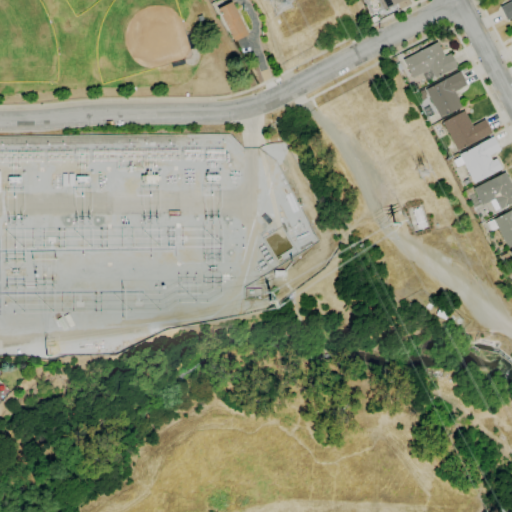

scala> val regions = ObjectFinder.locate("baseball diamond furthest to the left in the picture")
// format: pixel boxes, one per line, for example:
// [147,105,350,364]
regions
[0,0,60,82]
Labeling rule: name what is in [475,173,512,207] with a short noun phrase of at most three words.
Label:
house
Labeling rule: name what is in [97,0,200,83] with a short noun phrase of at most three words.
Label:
baseball field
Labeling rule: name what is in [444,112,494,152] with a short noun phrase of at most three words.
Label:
house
